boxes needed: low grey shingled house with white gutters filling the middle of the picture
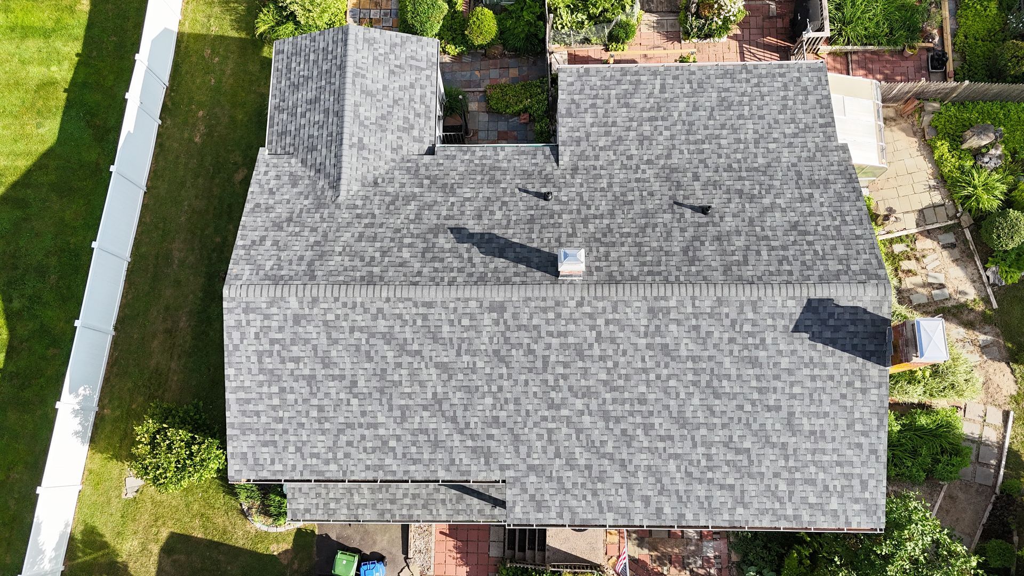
[223,25,952,534]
